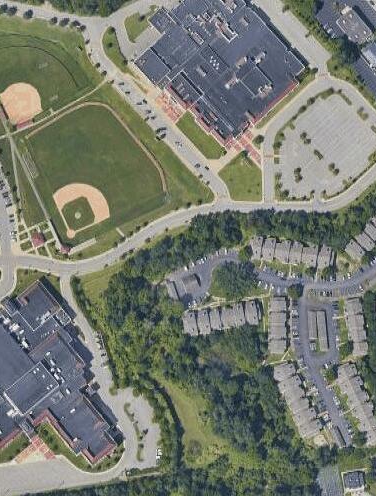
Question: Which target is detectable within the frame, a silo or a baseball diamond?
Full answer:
The image shows a baseball diamond.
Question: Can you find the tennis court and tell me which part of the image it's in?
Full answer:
The tennis court is in the bottom right part of the image.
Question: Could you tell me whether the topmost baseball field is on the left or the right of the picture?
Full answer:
The topmost baseball field is on the left side of the image.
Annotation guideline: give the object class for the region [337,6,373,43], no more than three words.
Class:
building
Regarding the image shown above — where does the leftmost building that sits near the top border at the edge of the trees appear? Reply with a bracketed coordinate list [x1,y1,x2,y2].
[135,0,305,137]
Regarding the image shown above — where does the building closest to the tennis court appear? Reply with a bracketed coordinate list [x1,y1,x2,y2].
[344,472,363,490]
